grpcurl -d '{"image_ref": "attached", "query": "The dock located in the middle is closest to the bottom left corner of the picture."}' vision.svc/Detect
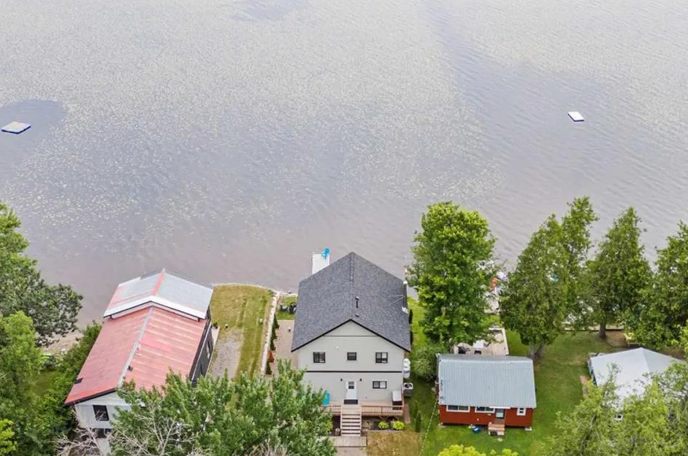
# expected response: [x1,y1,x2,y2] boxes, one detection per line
[311,249,331,275]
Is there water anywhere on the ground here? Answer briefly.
Yes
